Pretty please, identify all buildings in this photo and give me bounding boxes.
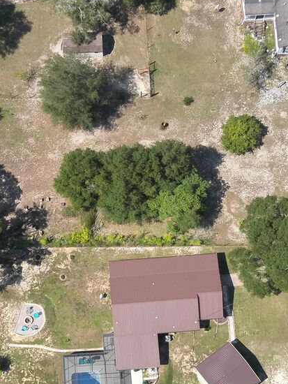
[61,32,103,58]
[194,341,262,384]
[108,253,224,370]
[242,0,288,57]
